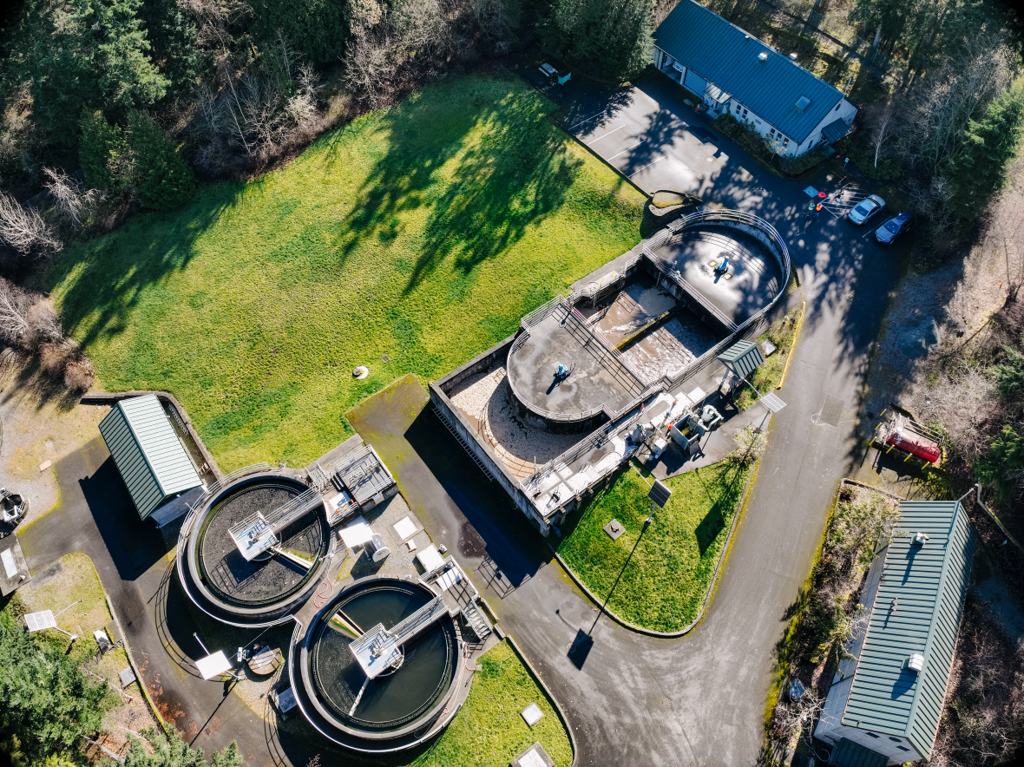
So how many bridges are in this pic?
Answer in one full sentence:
There are 2 bridges in the image.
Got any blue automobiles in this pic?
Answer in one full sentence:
Yes, there's a blue automobile here.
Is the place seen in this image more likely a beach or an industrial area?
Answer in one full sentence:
This looks like an industrial area.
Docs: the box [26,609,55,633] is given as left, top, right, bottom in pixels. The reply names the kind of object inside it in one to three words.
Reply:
solar panel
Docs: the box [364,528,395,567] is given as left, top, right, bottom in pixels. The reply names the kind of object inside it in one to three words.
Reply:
storage tank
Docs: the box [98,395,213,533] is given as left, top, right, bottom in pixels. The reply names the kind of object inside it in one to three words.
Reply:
shed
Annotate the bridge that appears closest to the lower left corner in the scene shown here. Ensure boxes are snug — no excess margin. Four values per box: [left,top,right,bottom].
[264,485,331,541]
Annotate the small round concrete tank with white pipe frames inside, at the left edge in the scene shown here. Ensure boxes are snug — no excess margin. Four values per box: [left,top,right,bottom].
[0,480,31,529]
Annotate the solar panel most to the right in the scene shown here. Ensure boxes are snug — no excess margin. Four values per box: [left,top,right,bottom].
[762,393,785,411]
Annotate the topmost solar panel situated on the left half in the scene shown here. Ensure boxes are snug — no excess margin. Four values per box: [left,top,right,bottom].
[338,518,373,546]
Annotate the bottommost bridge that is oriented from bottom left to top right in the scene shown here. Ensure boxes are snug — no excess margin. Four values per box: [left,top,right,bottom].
[388,592,454,653]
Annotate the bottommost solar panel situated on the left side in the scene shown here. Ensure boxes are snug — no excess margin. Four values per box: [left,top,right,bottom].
[197,650,230,680]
